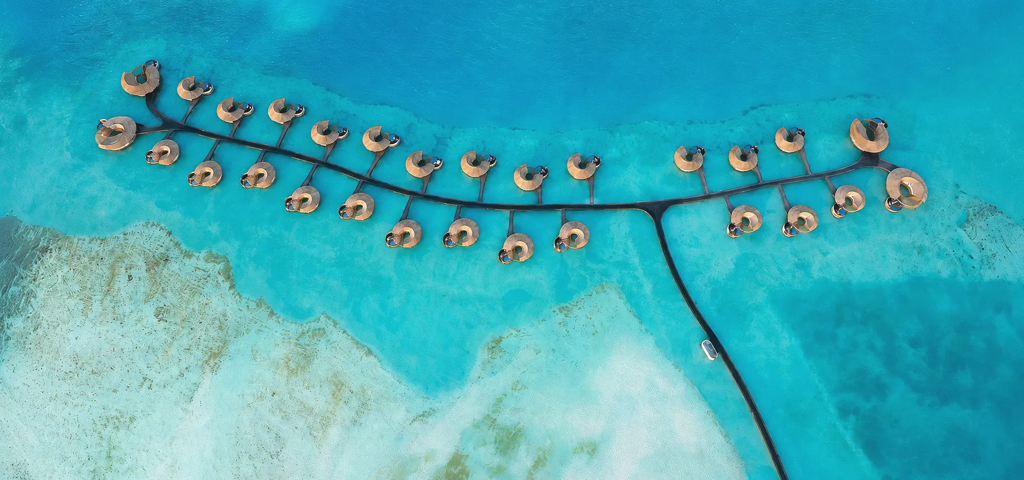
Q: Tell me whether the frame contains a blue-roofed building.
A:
No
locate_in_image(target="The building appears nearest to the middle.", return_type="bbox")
[497,234,534,264]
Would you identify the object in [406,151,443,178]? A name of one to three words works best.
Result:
house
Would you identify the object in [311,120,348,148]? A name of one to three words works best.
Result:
house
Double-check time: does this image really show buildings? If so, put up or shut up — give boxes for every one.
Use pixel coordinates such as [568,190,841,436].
[311,120,348,148]
[567,153,601,181]
[384,220,423,248]
[443,219,480,247]
[268,99,305,125]
[497,234,534,264]
[673,146,704,173]
[830,187,866,218]
[775,127,804,155]
[119,58,161,94]
[338,194,376,221]
[884,170,929,212]
[782,206,818,237]
[186,162,224,189]
[848,118,890,152]
[240,163,277,190]
[217,98,255,125]
[283,186,321,214]
[176,76,214,103]
[144,141,181,167]
[461,150,497,179]
[362,126,399,153]
[554,221,590,252]
[406,151,443,178]
[728,144,758,174]
[93,116,138,151]
[728,206,762,238]
[514,164,548,192]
